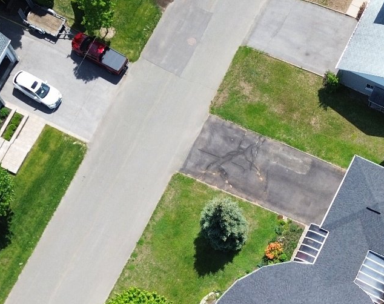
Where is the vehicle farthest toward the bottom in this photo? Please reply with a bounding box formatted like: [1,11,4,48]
[10,69,64,110]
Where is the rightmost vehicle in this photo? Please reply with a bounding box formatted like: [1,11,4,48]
[69,34,135,78]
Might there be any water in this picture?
No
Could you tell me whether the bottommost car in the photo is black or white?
white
